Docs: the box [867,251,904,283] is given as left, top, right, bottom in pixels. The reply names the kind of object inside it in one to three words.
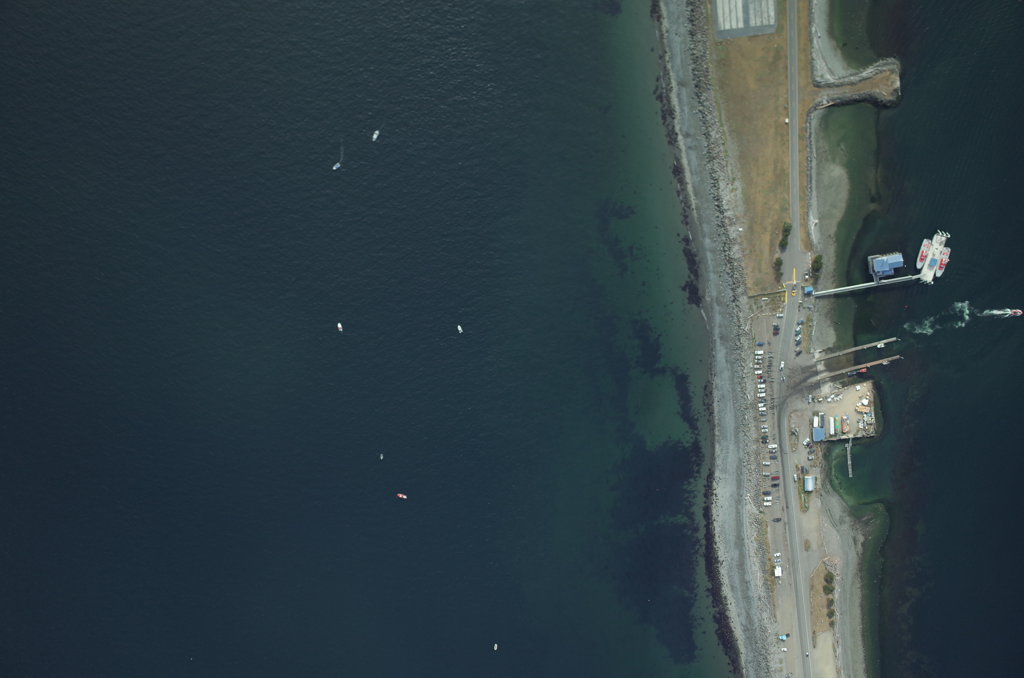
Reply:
building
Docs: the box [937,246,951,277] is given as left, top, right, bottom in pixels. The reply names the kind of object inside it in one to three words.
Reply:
boat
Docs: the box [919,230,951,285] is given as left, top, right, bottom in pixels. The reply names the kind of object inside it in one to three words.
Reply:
ship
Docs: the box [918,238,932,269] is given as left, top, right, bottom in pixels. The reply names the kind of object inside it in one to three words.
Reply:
boat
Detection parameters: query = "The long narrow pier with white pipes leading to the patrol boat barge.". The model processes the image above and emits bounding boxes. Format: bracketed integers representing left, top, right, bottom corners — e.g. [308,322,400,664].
[814,276,913,297]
